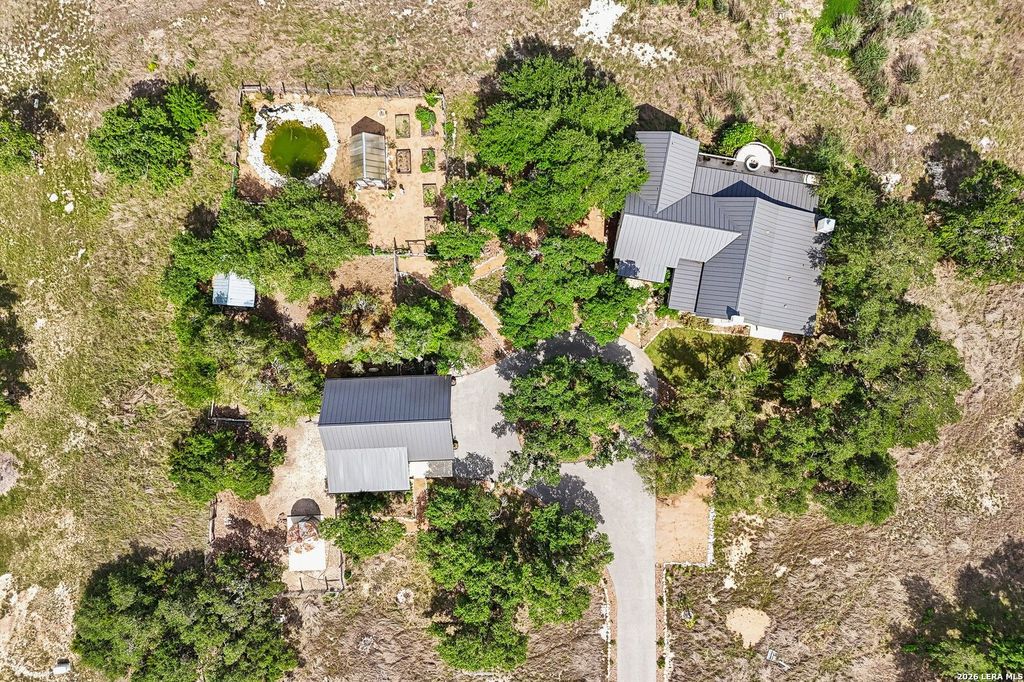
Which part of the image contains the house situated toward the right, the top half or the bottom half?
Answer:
top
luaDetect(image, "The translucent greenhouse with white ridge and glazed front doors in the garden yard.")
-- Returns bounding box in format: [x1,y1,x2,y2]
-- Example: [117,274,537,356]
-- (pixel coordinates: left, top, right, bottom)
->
[348,132,389,189]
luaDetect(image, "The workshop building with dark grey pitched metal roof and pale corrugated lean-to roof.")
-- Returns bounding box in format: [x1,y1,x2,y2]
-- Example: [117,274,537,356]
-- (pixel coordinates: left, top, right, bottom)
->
[318,376,453,493]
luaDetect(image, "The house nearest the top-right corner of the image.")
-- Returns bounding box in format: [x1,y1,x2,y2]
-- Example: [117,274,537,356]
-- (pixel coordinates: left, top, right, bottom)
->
[613,131,836,336]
